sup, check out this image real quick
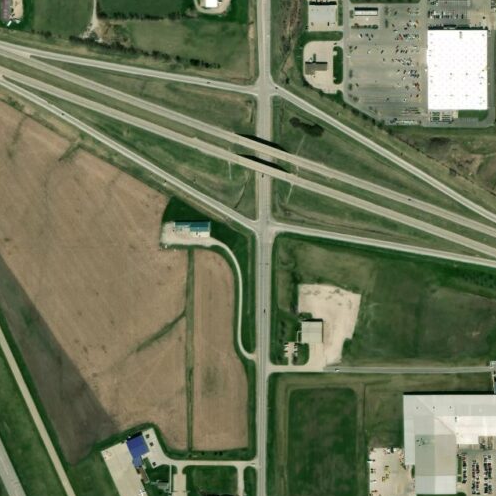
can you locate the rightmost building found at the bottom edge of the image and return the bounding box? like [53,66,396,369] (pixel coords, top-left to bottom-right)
[403,394,496,494]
